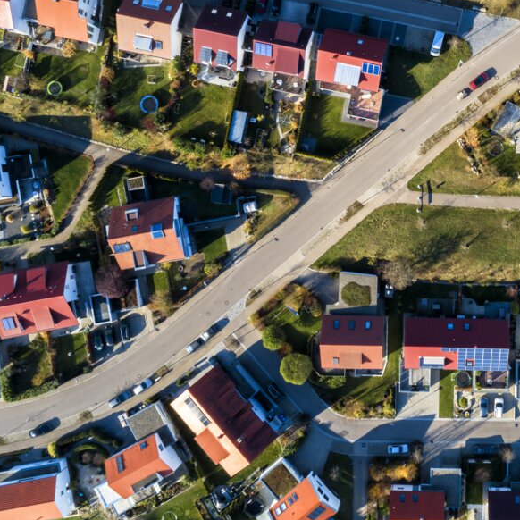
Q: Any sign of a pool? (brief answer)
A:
No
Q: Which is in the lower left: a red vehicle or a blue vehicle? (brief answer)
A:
blue vehicle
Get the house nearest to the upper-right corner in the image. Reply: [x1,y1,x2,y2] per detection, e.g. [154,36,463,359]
[316,27,388,94]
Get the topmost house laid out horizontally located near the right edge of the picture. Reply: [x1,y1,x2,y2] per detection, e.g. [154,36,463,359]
[404,317,512,370]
